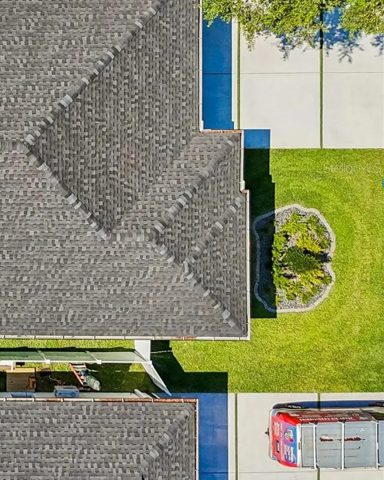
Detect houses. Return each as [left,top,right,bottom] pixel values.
[0,0,250,340]
[0,390,198,480]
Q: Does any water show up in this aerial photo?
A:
No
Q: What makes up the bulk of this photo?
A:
buildings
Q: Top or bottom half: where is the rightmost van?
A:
bottom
